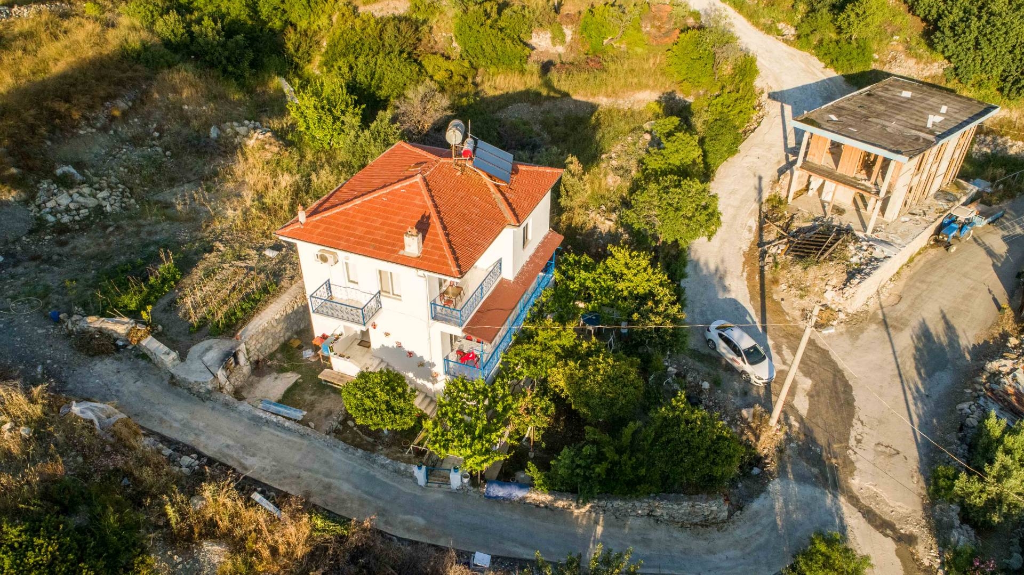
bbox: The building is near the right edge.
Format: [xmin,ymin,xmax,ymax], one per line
[786,79,1001,242]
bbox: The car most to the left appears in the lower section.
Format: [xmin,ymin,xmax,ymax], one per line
[702,315,783,383]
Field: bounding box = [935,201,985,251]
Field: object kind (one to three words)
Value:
work vehicle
